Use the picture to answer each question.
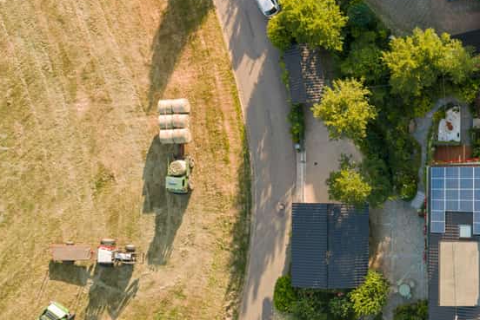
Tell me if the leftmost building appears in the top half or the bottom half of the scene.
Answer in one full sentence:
You can find the leftmost building in the top half.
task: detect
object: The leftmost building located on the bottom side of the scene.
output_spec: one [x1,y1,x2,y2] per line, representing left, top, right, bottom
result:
[291,203,373,289]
